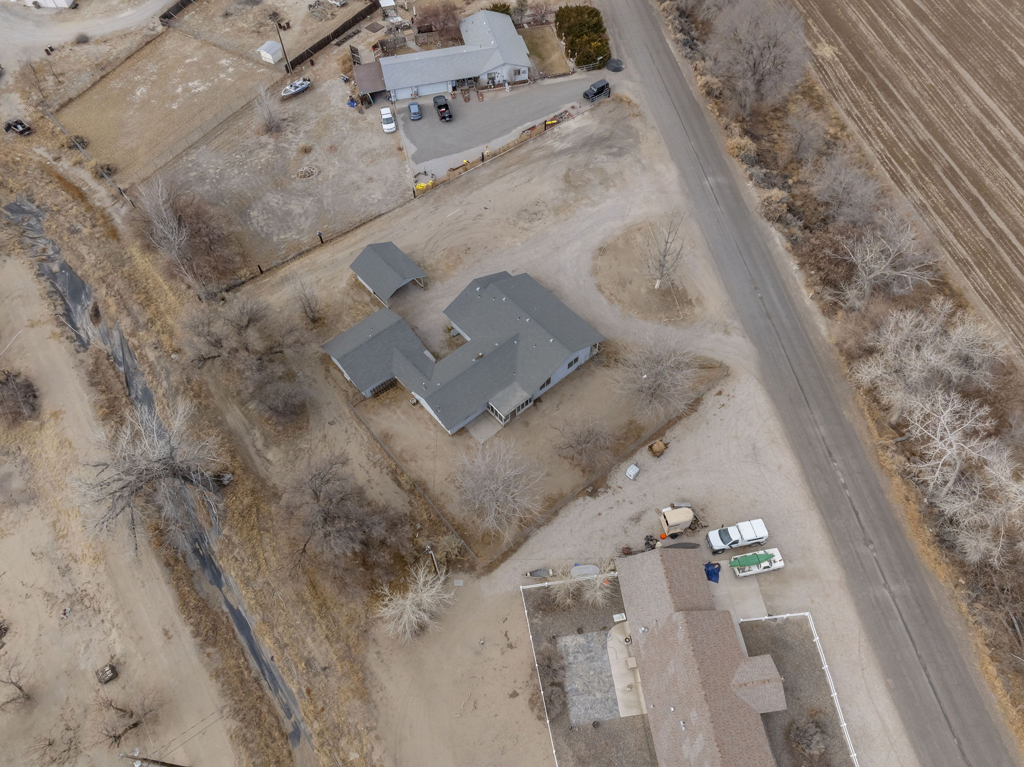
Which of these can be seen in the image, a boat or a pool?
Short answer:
boat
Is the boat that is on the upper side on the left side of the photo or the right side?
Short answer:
left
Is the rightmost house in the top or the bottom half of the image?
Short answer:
bottom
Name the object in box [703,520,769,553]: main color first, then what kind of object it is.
white truck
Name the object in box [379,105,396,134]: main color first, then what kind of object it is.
white car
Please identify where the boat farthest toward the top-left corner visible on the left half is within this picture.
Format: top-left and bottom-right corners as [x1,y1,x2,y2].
[274,78,316,102]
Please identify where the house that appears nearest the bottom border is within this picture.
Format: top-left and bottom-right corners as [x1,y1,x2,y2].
[610,545,779,767]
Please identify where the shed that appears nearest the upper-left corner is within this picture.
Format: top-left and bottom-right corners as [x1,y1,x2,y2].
[256,42,284,67]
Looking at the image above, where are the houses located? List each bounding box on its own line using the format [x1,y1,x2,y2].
[378,6,531,104]
[610,545,779,767]
[319,270,606,435]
